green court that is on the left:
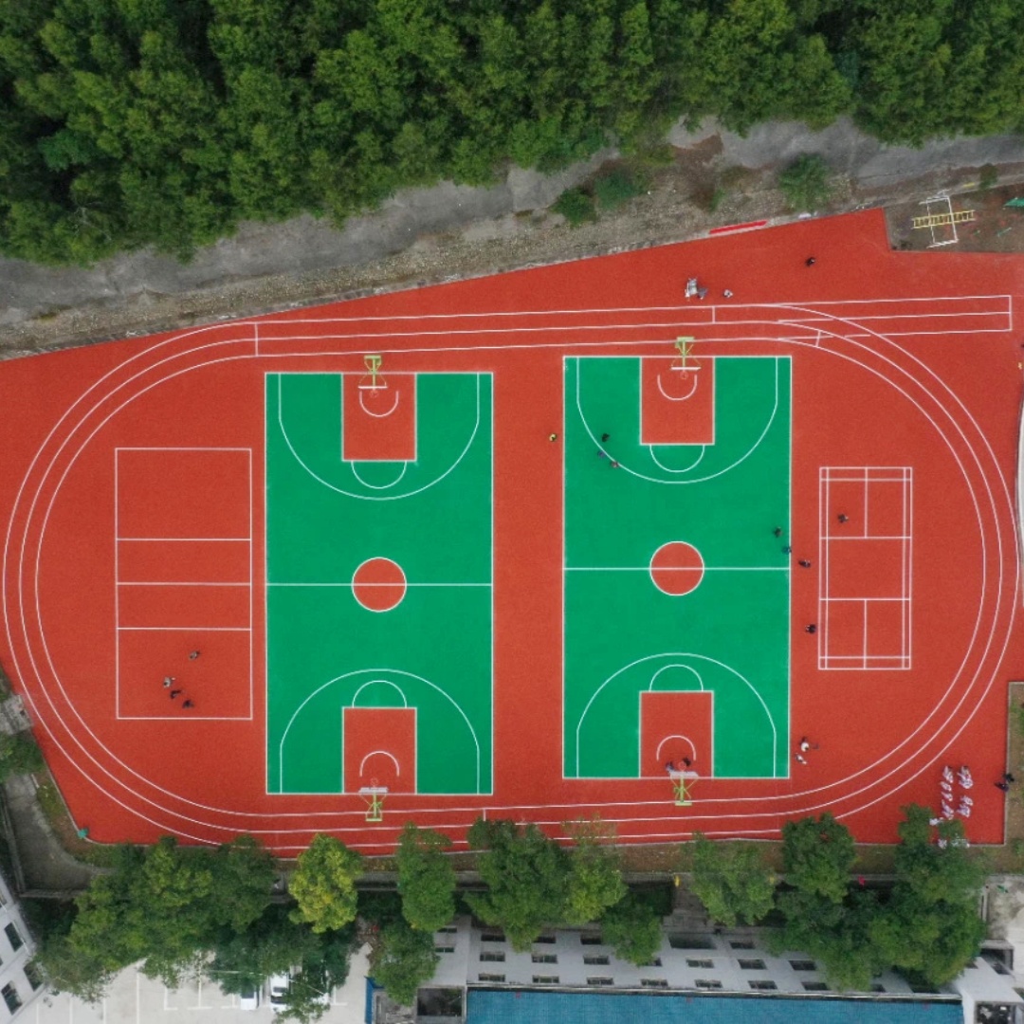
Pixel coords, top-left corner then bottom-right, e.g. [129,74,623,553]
[265,371,493,794]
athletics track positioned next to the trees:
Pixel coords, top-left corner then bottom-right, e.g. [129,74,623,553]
[0,208,1024,859]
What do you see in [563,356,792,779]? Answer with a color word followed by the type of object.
green basketball court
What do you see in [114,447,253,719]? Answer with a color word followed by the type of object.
red sports court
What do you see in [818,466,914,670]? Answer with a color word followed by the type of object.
red sports court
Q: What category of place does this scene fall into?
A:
sports ground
